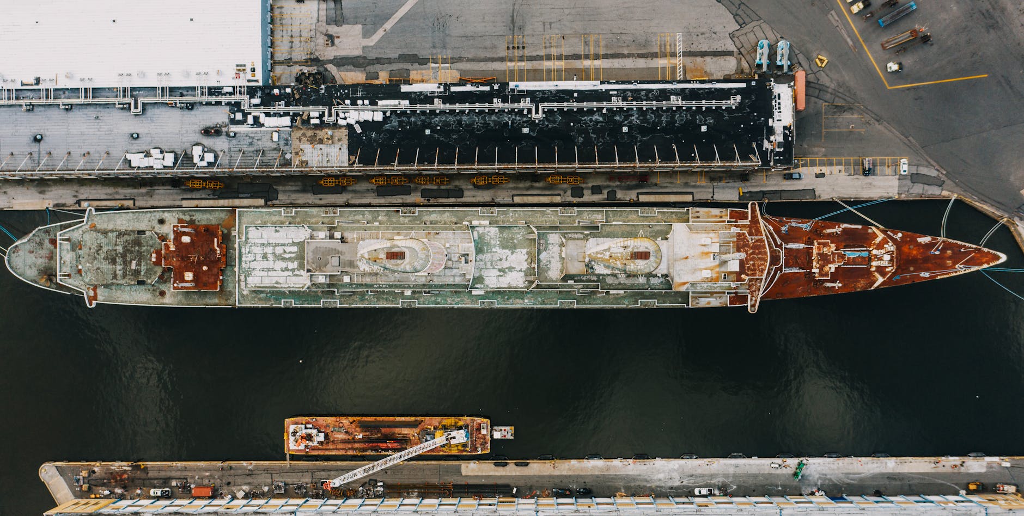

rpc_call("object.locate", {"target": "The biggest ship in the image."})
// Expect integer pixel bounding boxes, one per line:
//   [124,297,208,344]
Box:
[5,201,1007,314]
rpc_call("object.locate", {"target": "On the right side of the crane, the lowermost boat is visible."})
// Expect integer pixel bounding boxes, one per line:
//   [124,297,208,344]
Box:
[492,426,514,439]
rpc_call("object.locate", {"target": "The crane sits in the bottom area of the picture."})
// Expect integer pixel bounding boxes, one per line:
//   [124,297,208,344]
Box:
[323,418,476,490]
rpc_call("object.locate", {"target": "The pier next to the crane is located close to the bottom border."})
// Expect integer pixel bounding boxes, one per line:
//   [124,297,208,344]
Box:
[38,454,1024,507]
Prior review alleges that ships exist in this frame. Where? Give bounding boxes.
[284,414,490,454]
[5,201,1007,314]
